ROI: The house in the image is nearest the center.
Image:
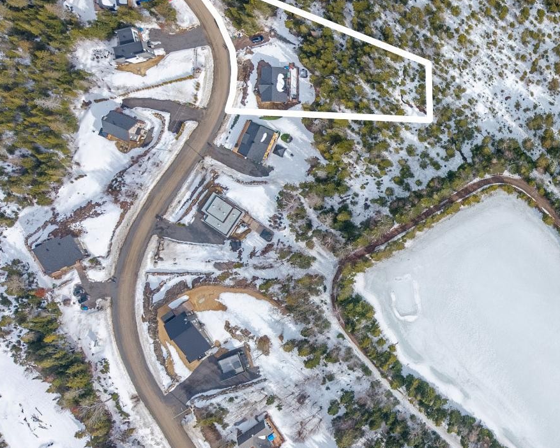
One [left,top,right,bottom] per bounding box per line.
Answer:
[203,191,276,243]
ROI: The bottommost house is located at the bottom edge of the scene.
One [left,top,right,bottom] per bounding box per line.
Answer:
[236,411,292,448]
